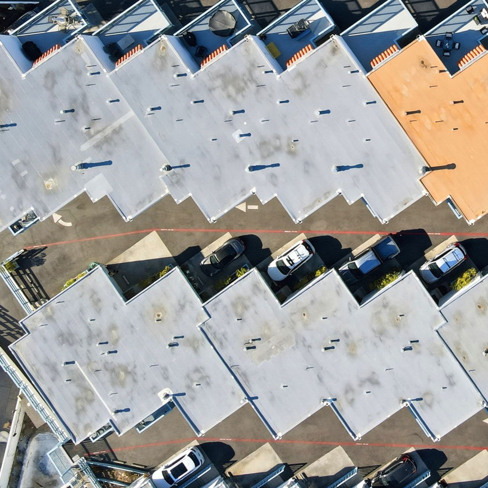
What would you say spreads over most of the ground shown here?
buildings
